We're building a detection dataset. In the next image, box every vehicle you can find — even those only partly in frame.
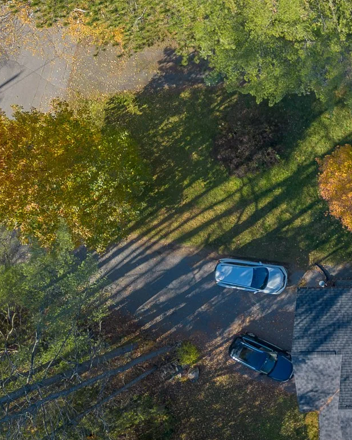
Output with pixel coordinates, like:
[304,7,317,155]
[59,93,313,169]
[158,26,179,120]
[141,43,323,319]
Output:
[227,331,293,381]
[217,259,290,296]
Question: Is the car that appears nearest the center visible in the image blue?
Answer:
Yes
